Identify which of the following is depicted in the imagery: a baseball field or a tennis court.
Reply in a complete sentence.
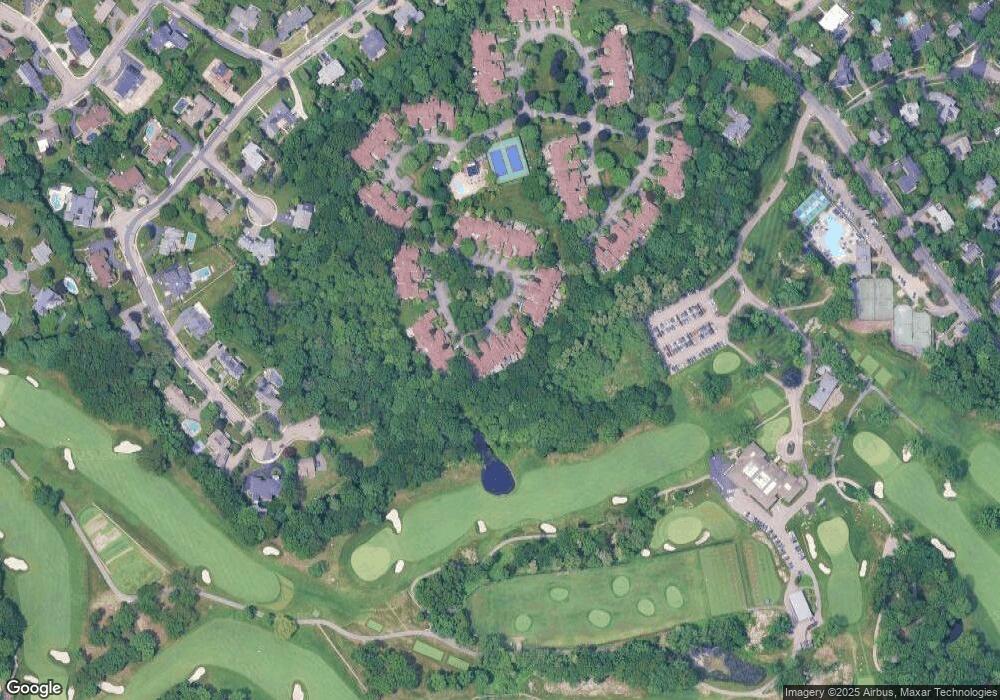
There is a tennis court in the scene.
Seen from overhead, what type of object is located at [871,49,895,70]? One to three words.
house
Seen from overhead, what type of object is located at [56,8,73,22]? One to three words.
swimming pool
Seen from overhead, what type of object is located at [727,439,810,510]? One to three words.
building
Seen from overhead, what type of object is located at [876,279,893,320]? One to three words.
tennis court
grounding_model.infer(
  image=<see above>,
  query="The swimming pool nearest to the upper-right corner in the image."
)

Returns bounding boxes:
[896,11,918,30]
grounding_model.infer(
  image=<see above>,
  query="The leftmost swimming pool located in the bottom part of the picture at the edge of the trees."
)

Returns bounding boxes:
[183,417,201,436]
